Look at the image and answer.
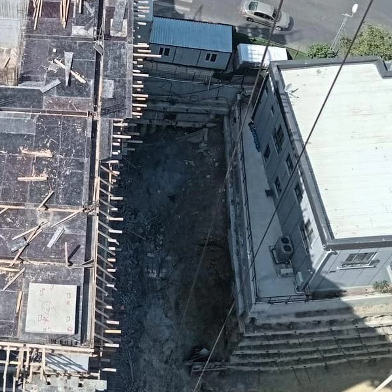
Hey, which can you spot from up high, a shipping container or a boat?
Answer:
shipping container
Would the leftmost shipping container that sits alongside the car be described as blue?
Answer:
Yes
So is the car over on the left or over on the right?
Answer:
right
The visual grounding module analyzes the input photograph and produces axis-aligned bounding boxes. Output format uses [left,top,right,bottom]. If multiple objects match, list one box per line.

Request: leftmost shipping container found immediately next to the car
[149,17,232,71]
